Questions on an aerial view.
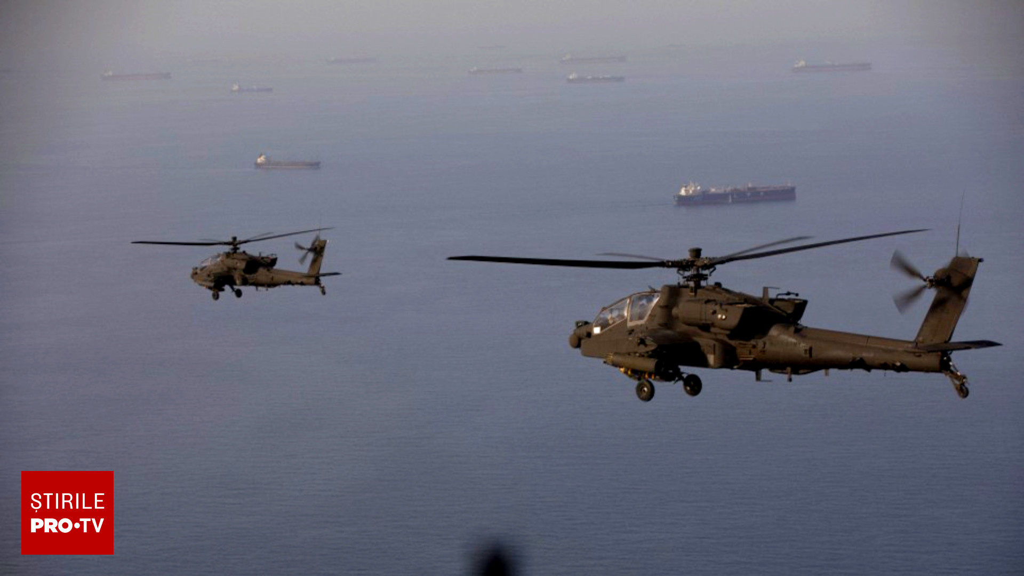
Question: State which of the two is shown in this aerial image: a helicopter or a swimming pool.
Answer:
helicopter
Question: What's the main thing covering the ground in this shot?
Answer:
water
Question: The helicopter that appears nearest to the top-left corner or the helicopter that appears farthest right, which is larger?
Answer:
the helicopter that appears farthest right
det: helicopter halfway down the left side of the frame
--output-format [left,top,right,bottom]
[131,217,339,301]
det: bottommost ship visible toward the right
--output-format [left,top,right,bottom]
[672,180,796,205]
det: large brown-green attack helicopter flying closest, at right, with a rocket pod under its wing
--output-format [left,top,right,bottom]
[447,191,1006,402]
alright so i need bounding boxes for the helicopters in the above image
[131,217,339,301]
[447,191,1006,402]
